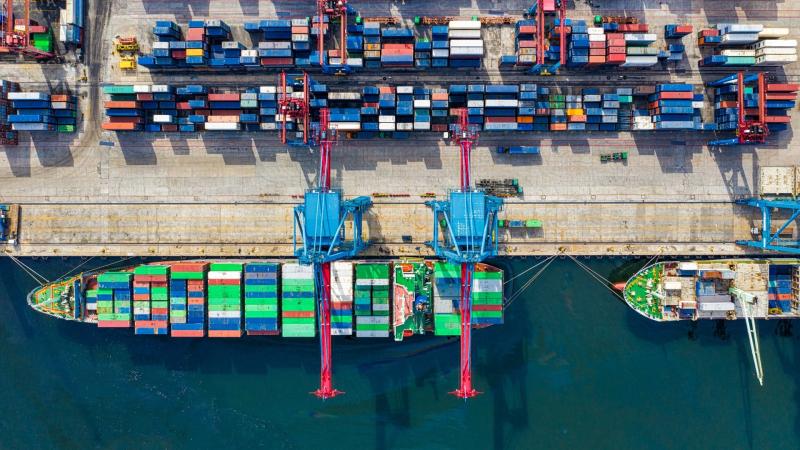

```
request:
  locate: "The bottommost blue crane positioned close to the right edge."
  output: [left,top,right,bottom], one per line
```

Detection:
[738,197,800,249]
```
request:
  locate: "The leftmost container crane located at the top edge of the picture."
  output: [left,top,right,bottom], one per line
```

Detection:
[5,0,67,60]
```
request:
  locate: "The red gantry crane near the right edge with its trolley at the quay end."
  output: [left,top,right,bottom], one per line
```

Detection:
[709,70,769,150]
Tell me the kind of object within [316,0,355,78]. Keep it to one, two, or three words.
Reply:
container crane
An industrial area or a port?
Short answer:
port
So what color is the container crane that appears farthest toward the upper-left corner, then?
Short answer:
red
